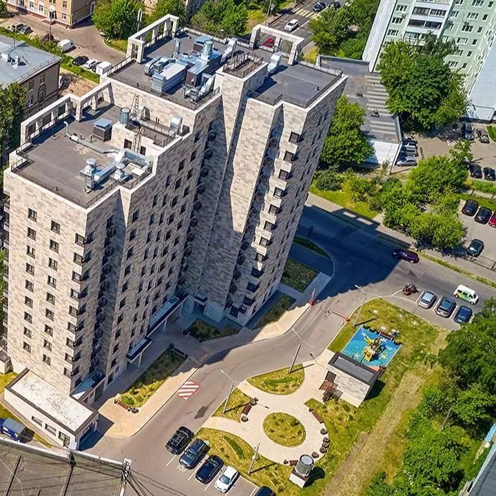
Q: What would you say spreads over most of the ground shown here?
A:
buildings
